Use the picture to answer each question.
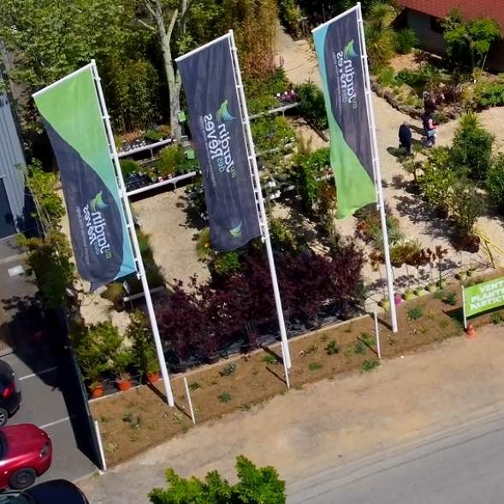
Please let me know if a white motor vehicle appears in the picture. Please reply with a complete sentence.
No, the picture doesn't show any white motor vehicle.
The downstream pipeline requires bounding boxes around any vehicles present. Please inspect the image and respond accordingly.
[0,430,49,485]
[0,359,29,429]
[0,478,89,504]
